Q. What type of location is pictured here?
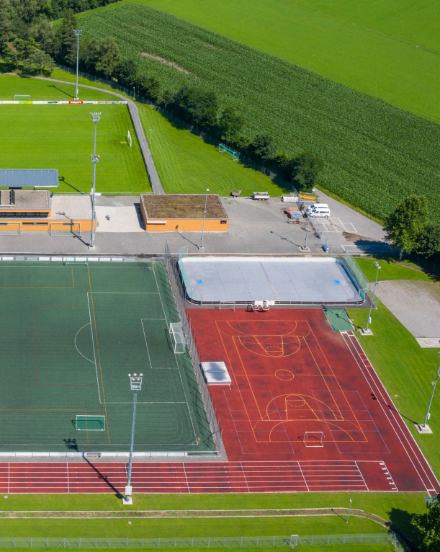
sports ground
